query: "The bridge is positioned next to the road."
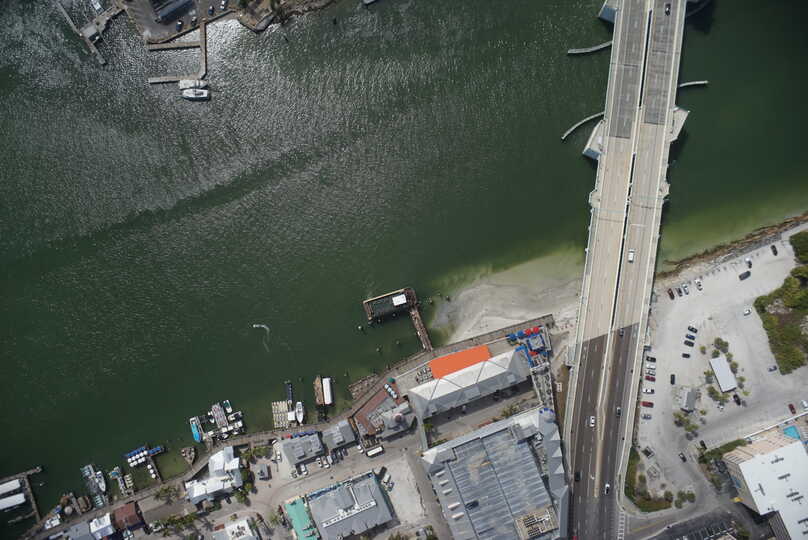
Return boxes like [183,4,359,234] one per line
[560,0,709,338]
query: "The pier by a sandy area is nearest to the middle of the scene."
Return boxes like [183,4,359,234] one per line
[363,287,432,351]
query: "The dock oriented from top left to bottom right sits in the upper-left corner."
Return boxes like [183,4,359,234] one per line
[55,0,107,66]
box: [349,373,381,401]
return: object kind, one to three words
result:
pier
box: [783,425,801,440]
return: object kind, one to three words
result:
swimming pool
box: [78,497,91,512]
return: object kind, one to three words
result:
boat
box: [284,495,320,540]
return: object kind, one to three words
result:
building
